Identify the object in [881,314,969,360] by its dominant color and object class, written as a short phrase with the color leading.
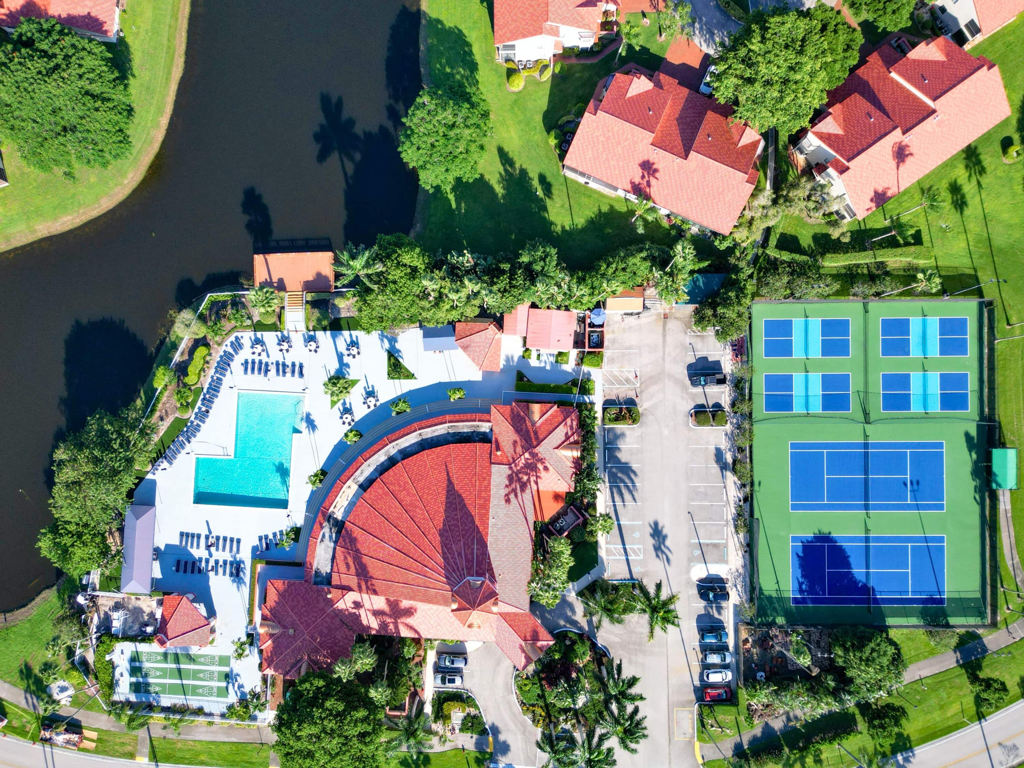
blue sports court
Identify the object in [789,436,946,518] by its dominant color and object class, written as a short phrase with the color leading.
blue tennis court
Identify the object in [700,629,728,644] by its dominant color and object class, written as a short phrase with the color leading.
blue car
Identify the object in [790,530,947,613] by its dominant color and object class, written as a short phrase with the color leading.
blue tennis court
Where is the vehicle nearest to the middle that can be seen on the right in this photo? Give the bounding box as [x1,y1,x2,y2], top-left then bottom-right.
[690,373,726,388]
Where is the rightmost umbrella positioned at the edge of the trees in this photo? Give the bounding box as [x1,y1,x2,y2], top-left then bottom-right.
[591,309,606,324]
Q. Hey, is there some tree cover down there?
Yes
